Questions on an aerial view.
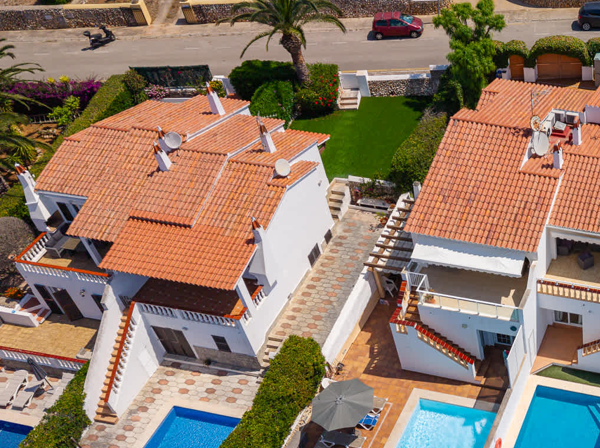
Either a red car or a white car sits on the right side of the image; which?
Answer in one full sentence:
There is a red car on the right side of the image.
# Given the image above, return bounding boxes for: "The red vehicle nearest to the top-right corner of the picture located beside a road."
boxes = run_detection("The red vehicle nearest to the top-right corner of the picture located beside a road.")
[371,11,423,41]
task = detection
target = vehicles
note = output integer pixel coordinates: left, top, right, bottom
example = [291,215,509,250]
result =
[81,21,118,42]
[579,6,600,35]
[371,11,423,41]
